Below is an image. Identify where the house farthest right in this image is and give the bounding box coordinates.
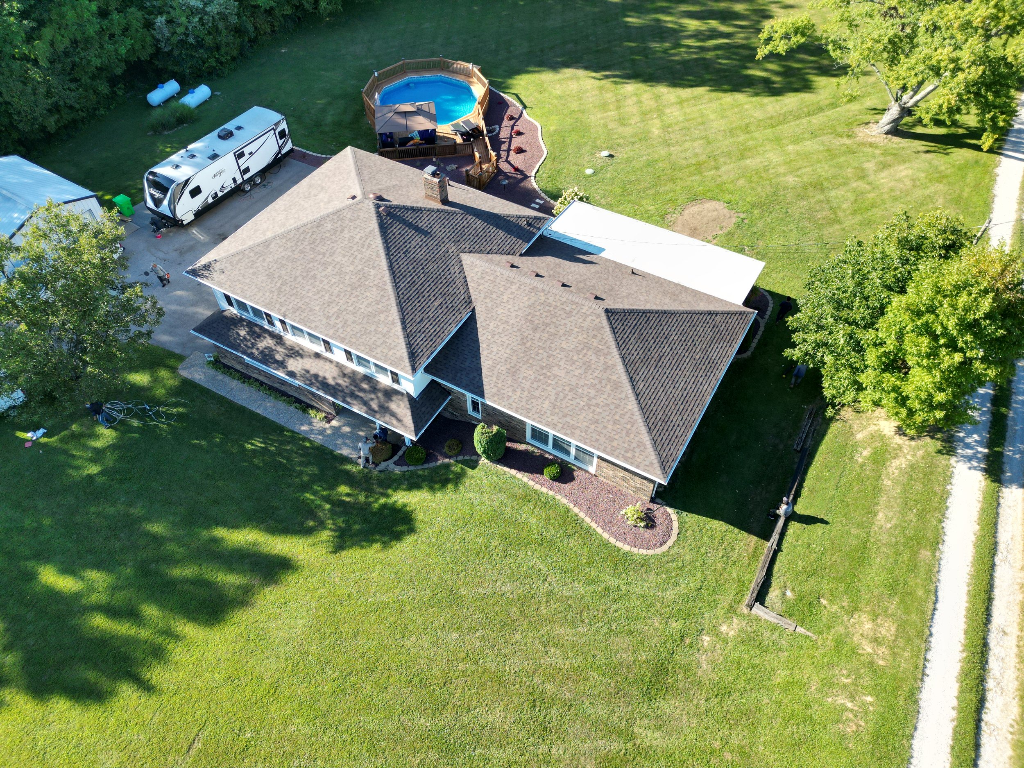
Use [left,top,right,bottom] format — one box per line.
[182,138,765,511]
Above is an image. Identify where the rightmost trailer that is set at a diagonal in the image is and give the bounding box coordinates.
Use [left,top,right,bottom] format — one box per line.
[141,108,292,243]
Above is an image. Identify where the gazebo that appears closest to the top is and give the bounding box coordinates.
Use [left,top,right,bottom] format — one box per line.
[373,99,438,157]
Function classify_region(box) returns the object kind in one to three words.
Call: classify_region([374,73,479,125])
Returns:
swimming pool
